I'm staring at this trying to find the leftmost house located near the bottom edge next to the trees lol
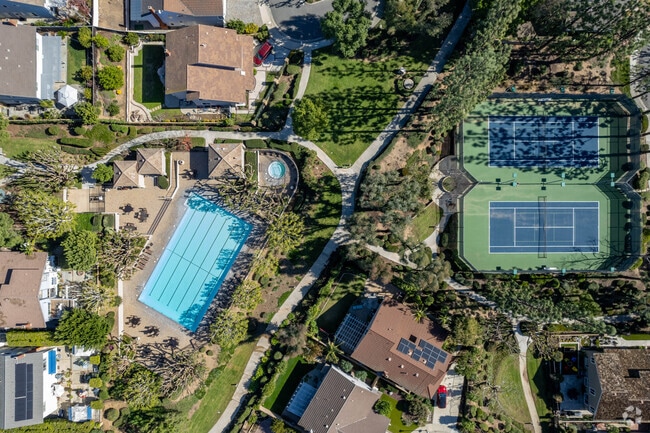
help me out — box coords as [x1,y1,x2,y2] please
[0,347,57,429]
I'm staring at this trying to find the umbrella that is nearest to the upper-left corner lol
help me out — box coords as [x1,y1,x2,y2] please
[60,86,78,107]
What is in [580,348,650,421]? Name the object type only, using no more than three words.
house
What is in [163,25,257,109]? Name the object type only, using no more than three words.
house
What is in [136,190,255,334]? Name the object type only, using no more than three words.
swimming pool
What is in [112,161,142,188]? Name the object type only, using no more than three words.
building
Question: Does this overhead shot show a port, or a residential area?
residential area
